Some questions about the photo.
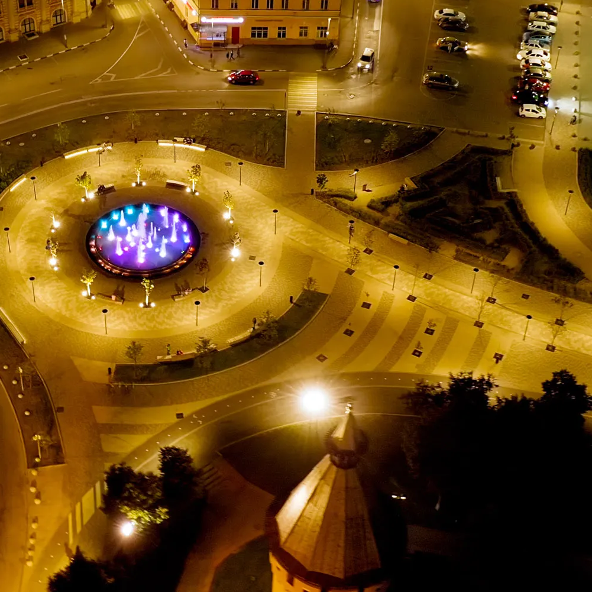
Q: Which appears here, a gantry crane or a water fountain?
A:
water fountain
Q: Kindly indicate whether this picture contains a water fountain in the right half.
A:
No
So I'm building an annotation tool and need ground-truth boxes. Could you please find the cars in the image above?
[425,73,458,89]
[528,10,559,24]
[518,48,551,61]
[521,38,551,51]
[520,57,553,70]
[527,20,557,33]
[521,76,549,92]
[520,67,553,81]
[439,18,470,31]
[358,47,375,72]
[518,103,547,119]
[228,71,262,85]
[433,8,465,21]
[524,29,551,42]
[437,38,469,53]
[513,86,548,104]
[528,2,559,14]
